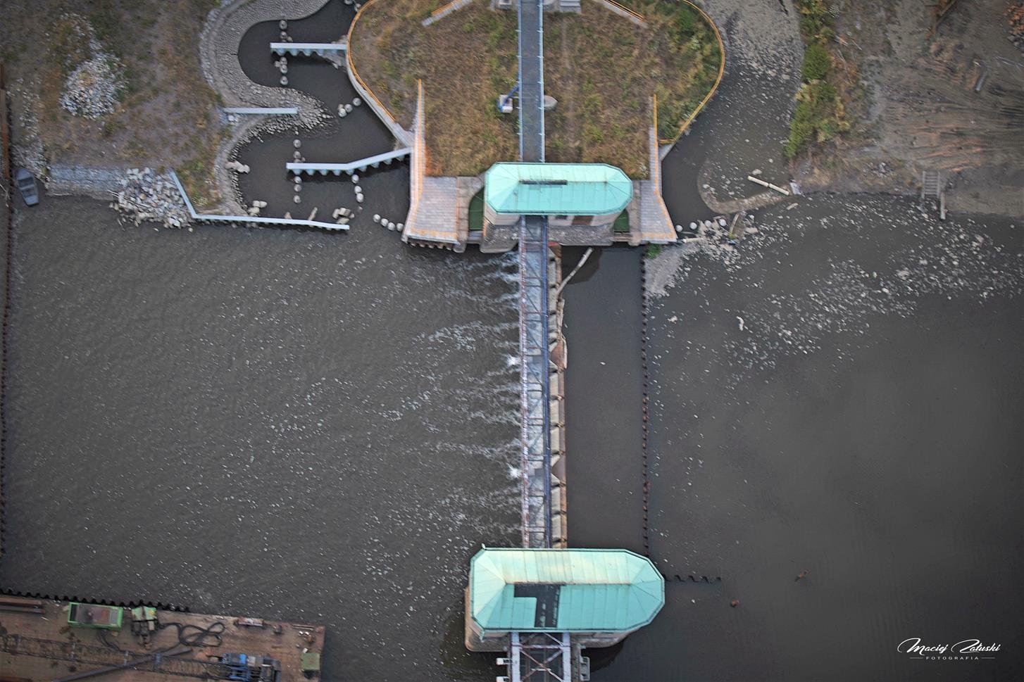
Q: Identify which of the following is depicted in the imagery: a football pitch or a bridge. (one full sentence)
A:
The one in the frame is a bridge.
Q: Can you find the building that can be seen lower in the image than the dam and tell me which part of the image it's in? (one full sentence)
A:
You can find the building that can be seen lower in the image than the dam in the bottom area of the picture.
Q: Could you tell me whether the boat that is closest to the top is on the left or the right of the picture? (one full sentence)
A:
The boat that is closest to the top is on the left side of the image.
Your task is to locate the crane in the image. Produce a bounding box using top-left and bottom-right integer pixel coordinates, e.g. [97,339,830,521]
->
[210,654,282,682]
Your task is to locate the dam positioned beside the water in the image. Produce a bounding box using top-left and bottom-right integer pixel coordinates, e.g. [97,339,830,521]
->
[548,245,568,550]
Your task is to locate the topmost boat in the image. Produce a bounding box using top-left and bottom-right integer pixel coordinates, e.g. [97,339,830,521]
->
[17,168,39,205]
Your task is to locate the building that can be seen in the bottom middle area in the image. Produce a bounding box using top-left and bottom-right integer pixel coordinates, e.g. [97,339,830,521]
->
[471,546,664,638]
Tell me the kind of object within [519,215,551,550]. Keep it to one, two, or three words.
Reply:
bridge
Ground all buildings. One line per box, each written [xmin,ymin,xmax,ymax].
[486,161,632,225]
[471,546,664,638]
